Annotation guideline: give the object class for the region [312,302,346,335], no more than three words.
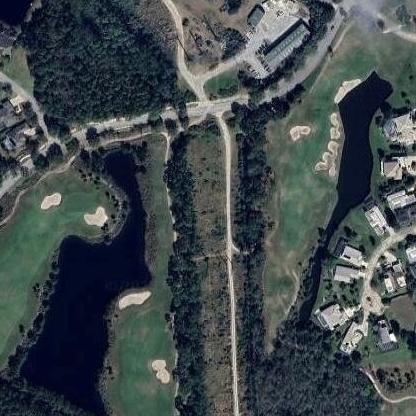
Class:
house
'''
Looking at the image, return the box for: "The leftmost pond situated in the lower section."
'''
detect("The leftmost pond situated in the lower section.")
[20,149,151,414]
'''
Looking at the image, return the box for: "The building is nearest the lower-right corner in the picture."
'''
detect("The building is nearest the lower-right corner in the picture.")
[375,321,396,354]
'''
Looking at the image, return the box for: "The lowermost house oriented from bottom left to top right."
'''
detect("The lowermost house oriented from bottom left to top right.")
[338,321,365,352]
